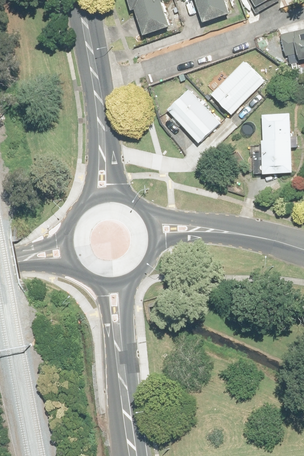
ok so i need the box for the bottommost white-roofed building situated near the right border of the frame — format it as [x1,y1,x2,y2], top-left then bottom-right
[252,112,298,174]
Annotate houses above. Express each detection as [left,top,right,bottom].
[251,0,279,14]
[280,30,304,62]
[194,0,228,22]
[167,89,222,144]
[210,60,266,114]
[252,112,298,174]
[128,0,168,34]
